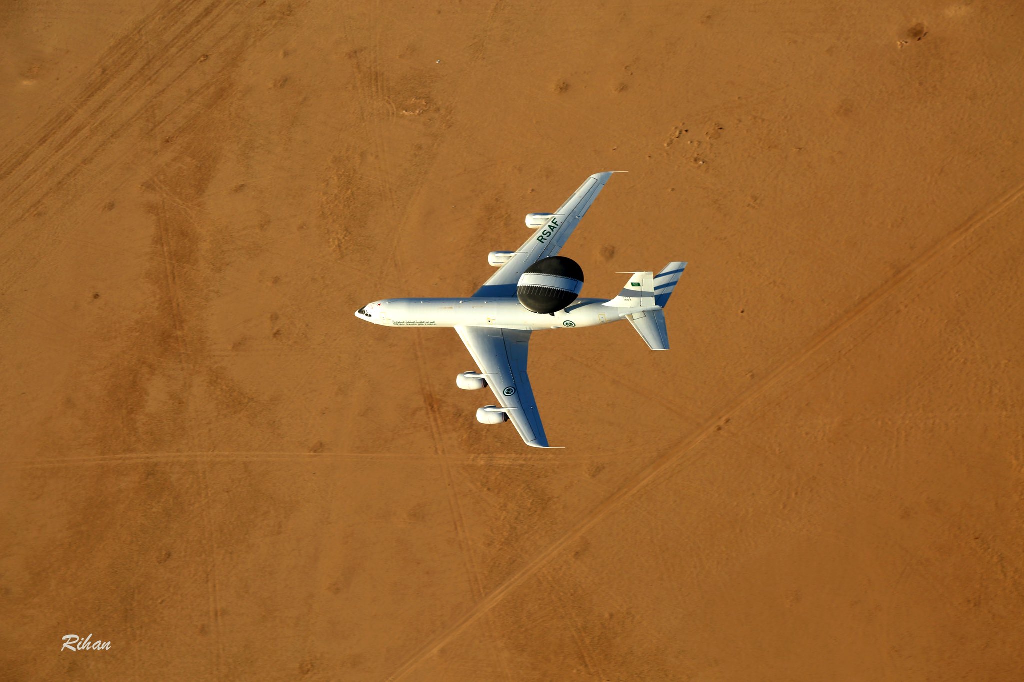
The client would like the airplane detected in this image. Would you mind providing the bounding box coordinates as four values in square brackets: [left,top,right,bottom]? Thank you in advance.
[355,172,689,448]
